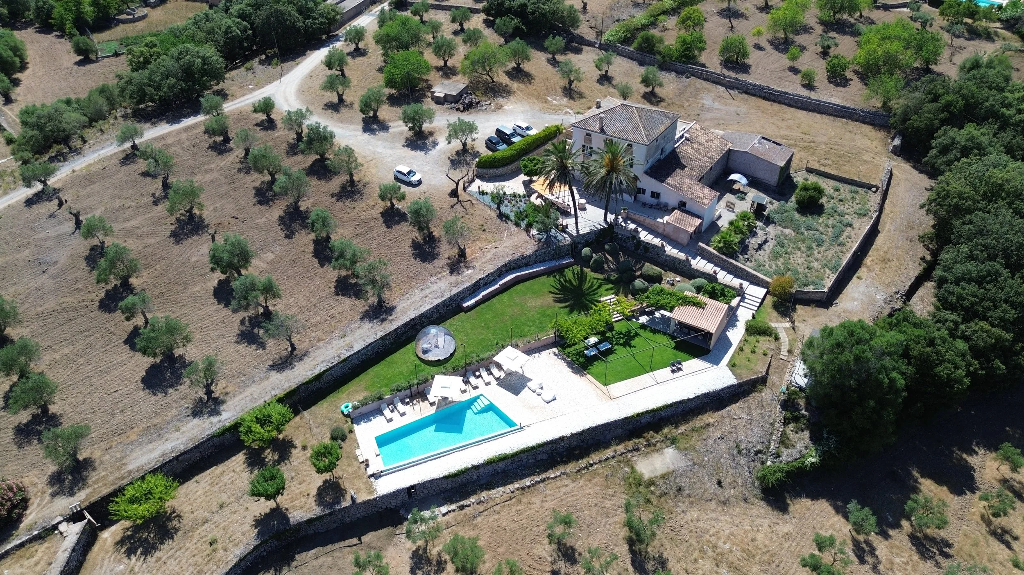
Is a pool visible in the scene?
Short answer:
Yes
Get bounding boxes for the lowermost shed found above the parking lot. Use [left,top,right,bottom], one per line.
[430,76,464,104]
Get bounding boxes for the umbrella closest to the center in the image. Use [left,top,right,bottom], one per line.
[493,340,530,375]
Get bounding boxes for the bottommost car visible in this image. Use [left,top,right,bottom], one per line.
[391,169,422,186]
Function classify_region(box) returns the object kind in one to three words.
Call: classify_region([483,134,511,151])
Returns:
car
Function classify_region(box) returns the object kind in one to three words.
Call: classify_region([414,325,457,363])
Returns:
tent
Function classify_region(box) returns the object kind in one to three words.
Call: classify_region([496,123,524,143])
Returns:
car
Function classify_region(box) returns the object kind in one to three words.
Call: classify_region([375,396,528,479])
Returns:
swimming pool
